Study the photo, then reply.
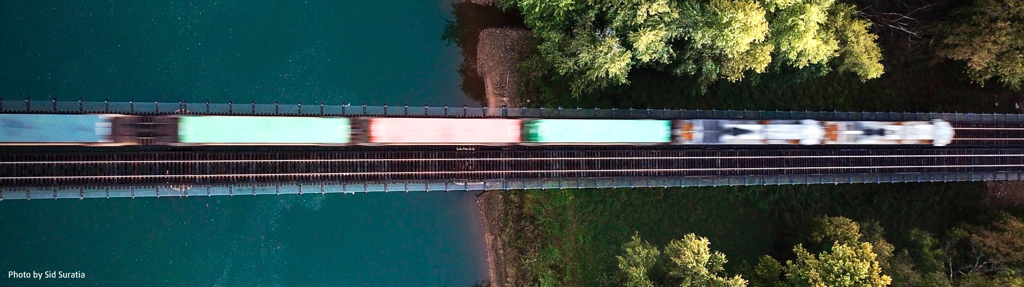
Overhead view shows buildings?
No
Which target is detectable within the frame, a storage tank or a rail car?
rail car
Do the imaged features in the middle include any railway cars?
Yes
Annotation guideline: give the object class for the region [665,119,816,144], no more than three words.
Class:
rail car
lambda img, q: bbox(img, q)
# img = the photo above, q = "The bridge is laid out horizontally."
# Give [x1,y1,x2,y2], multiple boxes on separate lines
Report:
[0,96,1024,201]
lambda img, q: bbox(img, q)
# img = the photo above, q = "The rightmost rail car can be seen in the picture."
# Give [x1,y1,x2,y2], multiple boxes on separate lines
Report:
[813,120,947,146]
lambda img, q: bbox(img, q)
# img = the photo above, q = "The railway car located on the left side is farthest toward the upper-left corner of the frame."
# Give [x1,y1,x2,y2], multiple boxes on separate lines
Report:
[0,111,152,144]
